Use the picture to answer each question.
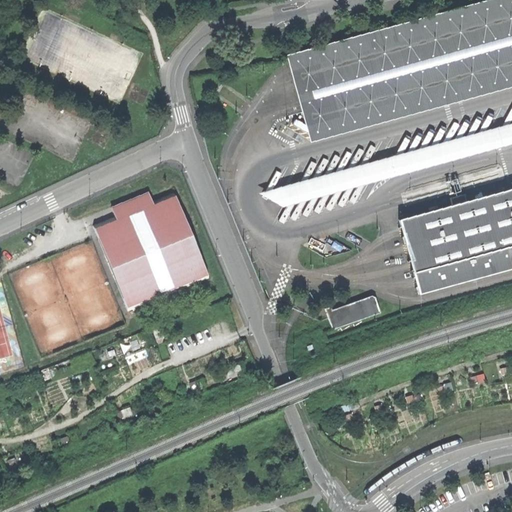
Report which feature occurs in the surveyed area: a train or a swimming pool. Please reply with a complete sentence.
The one in the frame is a train.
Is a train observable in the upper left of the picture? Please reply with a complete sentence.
No, looking in the upper left of the picture, there is no train.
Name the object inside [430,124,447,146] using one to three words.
vehicle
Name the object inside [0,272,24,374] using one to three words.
sports court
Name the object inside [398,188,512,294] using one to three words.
building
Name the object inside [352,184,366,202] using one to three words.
vehicle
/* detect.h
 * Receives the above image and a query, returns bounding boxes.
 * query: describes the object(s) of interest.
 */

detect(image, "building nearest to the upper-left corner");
[93,192,210,311]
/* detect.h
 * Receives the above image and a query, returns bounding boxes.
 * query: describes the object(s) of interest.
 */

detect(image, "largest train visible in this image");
[364,436,463,494]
